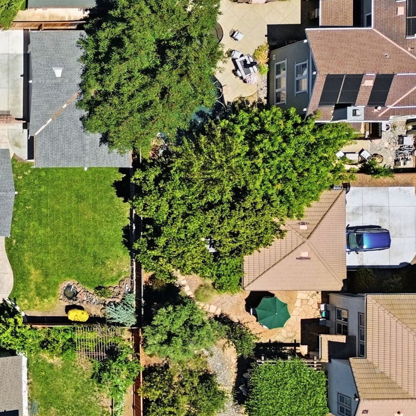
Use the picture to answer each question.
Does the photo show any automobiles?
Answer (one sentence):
Yes, an automobile is visible in the scene.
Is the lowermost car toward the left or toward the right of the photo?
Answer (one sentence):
The lowermost car is on the right side of the image.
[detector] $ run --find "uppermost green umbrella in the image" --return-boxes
[261,295,295,331]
